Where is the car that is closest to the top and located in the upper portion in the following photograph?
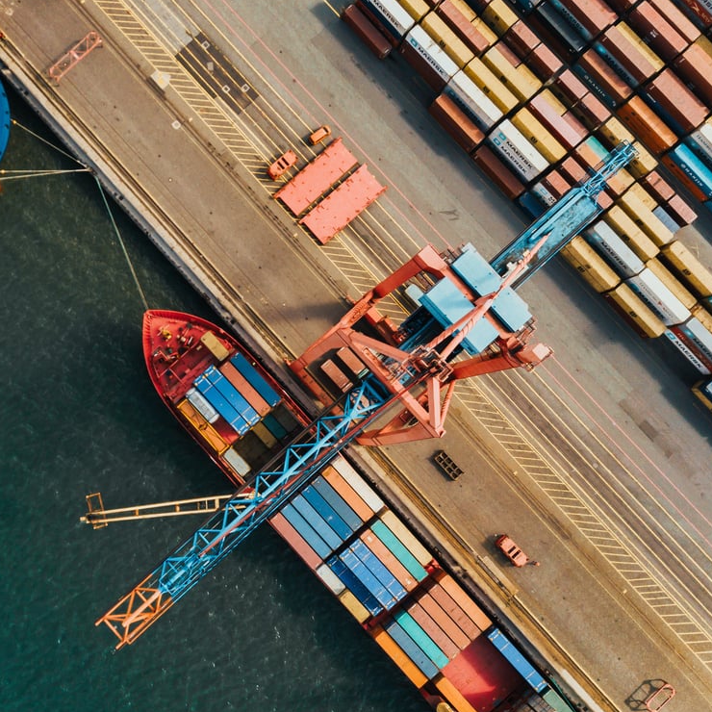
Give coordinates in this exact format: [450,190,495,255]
[304,130,328,150]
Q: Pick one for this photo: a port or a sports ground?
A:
port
